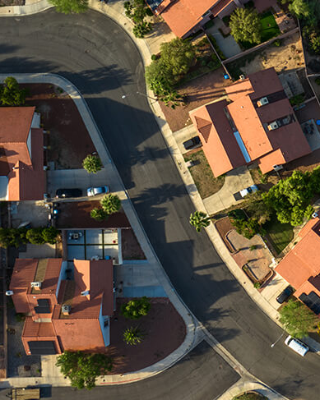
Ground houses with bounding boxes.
[5,258,119,356]
[275,210,320,317]
[146,0,246,38]
[0,107,52,201]
[189,67,312,178]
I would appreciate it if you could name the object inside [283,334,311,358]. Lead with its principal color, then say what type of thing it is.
white vehicle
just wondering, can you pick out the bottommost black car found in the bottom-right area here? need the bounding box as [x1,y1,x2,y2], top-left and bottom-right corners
[274,284,295,305]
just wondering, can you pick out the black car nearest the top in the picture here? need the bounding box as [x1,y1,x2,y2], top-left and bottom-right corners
[179,134,202,151]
